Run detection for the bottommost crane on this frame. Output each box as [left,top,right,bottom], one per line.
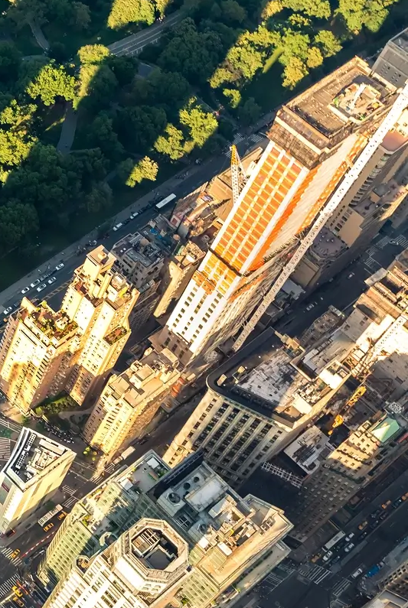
[324,385,369,441]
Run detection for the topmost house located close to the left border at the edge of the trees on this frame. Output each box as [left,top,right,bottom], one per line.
[0,239,138,407]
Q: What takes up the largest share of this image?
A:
buildings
